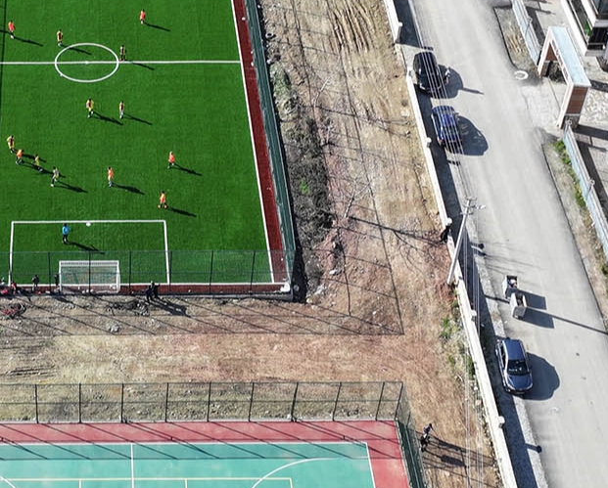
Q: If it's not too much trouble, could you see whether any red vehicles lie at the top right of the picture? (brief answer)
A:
No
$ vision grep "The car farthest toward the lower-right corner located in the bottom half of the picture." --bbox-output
[496,334,539,390]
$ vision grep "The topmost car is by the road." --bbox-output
[413,47,447,92]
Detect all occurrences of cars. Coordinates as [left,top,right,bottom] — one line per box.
[413,47,447,92]
[432,105,469,147]
[496,334,539,390]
